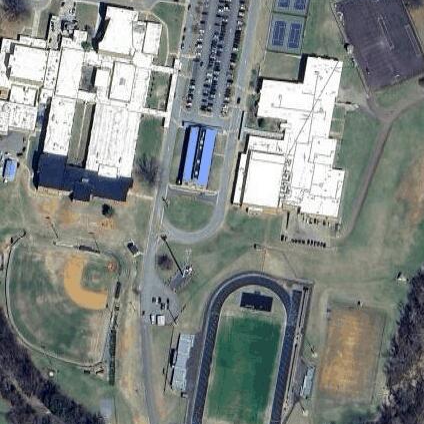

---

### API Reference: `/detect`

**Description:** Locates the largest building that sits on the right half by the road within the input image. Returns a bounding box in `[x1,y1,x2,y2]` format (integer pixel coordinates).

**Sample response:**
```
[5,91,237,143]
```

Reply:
[233,57,345,221]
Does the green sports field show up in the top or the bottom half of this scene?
bottom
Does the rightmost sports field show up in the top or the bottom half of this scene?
bottom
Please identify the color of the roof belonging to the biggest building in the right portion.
white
